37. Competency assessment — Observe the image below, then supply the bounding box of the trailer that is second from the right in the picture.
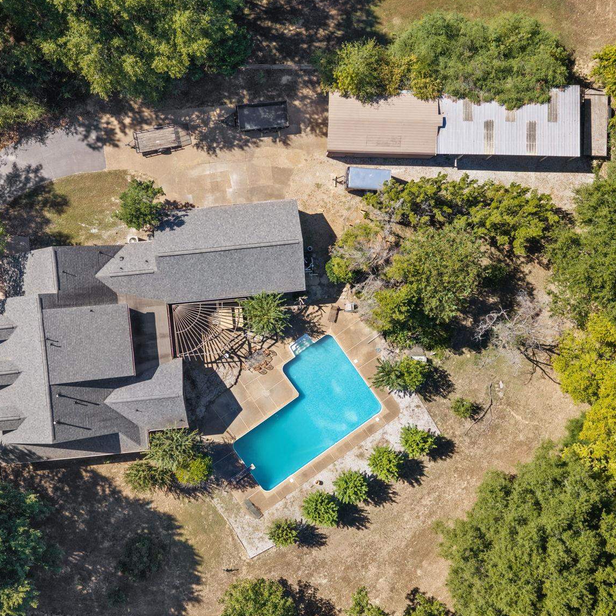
[220,102,290,144]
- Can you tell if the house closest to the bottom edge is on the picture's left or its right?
left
